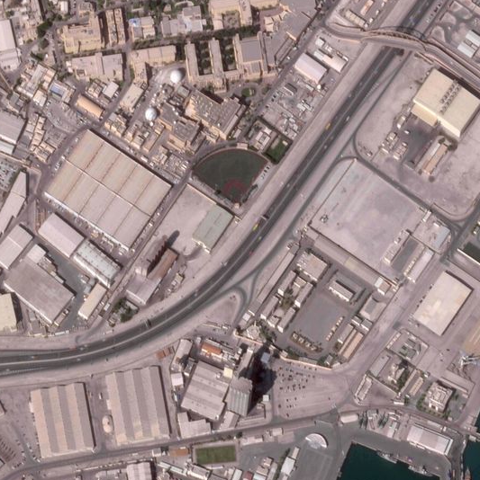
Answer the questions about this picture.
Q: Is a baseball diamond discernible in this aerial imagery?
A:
Yes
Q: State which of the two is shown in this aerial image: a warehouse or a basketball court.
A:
warehouse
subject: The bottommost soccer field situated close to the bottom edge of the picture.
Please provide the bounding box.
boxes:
[193,443,238,466]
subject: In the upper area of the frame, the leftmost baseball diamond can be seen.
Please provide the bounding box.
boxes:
[192,148,269,204]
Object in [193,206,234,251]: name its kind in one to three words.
building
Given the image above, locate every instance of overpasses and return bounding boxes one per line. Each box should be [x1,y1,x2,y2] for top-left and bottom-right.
[315,21,480,90]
